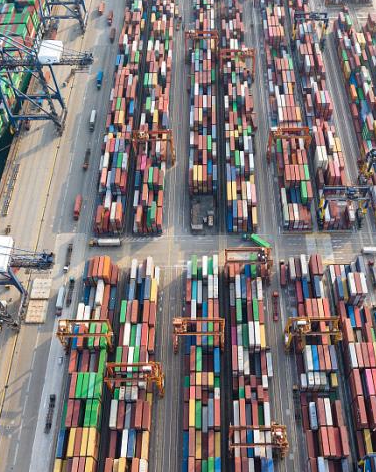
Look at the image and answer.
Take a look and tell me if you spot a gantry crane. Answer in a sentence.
Yes, a gantry crane can be made out from above.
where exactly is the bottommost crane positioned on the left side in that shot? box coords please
[103,360,165,399]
